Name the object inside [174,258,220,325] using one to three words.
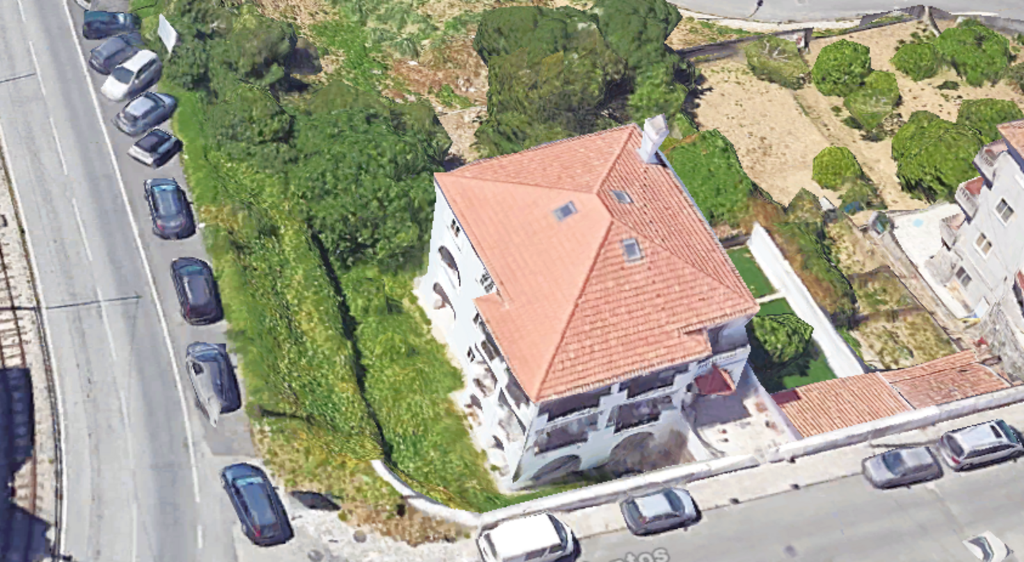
car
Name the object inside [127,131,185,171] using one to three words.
car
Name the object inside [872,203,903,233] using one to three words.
greenhouse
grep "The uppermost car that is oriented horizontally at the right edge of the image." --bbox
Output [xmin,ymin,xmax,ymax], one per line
[939,422,1023,469]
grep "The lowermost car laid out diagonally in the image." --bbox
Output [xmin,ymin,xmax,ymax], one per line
[221,463,291,547]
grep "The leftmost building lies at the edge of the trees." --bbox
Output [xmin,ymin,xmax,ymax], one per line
[431,118,763,489]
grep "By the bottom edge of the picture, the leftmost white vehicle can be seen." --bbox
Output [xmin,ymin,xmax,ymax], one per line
[484,516,573,562]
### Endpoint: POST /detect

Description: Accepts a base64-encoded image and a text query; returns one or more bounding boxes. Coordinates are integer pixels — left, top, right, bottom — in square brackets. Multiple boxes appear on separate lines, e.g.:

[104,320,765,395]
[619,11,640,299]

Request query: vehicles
[77,6,146,44]
[484,516,573,562]
[187,340,237,413]
[620,490,700,534]
[174,258,220,325]
[101,51,163,101]
[127,131,185,171]
[109,95,182,139]
[221,463,291,547]
[150,180,192,239]
[939,422,1023,469]
[84,36,149,78]
[861,450,944,489]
